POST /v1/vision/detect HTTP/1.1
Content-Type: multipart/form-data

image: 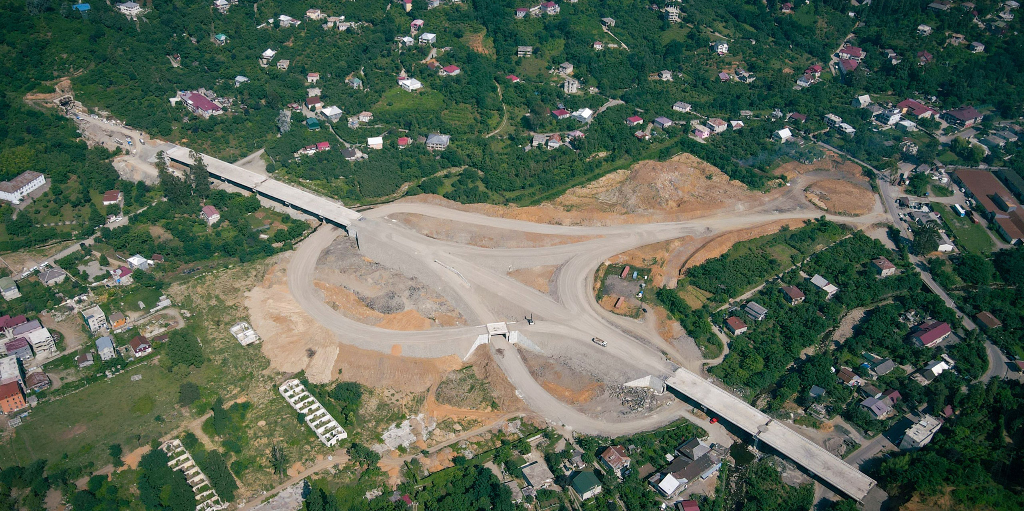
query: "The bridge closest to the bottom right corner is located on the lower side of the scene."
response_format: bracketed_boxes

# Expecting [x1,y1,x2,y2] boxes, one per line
[625,366,878,496]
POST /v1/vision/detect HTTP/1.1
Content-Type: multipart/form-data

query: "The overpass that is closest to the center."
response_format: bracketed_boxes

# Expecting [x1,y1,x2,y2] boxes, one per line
[467,321,539,355]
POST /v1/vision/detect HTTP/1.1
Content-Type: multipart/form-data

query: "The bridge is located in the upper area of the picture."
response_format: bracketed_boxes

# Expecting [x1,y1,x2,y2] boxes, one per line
[167,150,362,251]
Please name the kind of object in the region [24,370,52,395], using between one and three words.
house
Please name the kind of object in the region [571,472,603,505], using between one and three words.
house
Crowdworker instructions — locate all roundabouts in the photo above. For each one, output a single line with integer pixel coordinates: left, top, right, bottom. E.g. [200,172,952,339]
[759,169,892,222]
